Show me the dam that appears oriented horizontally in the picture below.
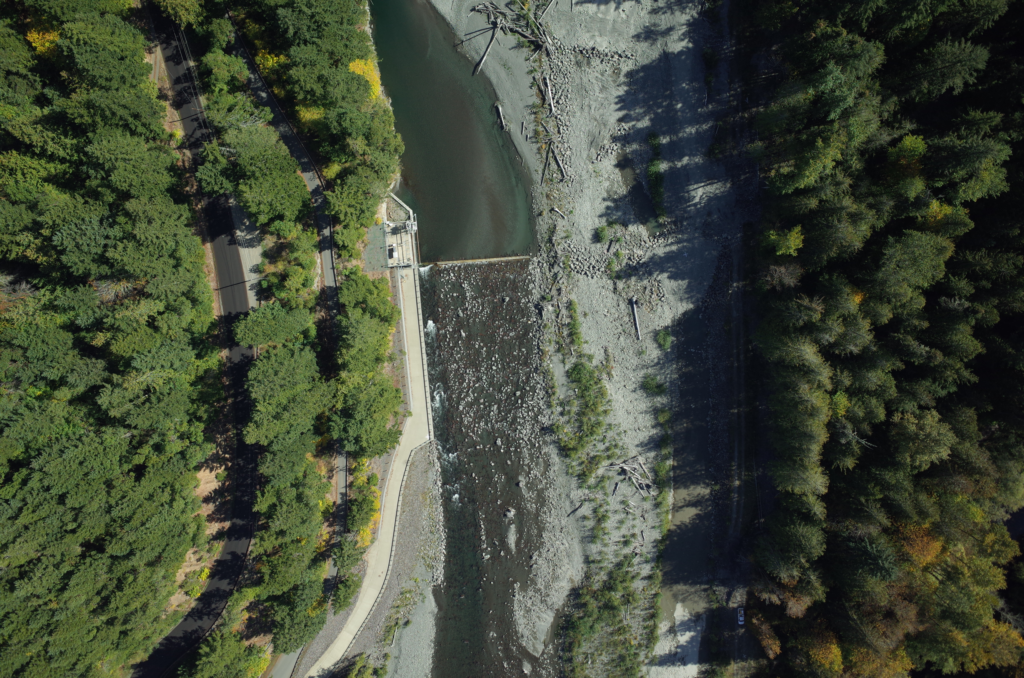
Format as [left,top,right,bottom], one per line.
[420,255,532,267]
